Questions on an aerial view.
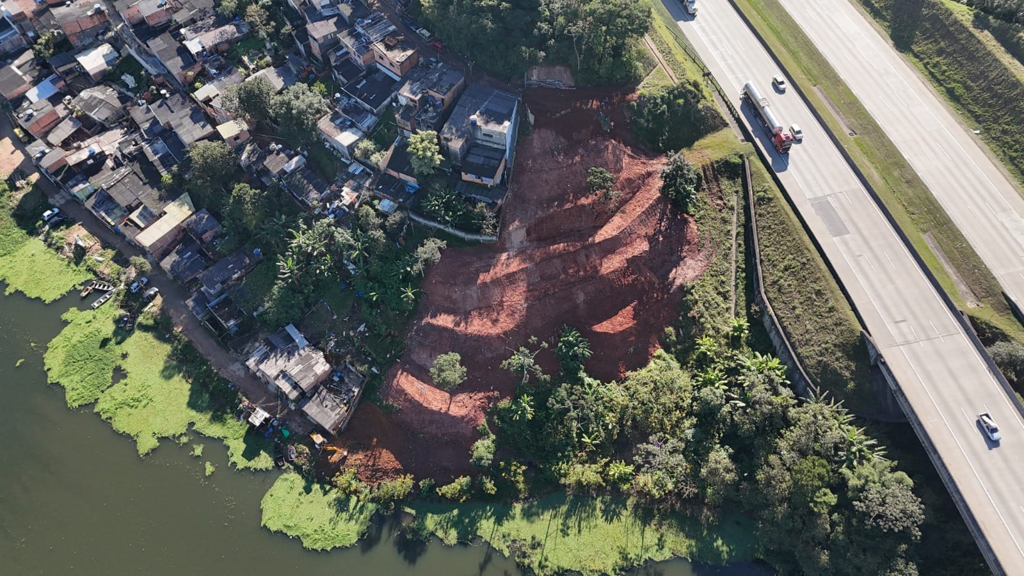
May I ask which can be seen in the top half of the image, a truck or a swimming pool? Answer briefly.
truck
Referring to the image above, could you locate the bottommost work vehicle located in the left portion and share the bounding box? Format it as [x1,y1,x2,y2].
[303,425,347,456]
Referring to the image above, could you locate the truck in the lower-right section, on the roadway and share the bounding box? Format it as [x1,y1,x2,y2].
[975,410,1002,442]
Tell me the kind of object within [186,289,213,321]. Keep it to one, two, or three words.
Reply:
house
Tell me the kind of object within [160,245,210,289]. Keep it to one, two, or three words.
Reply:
house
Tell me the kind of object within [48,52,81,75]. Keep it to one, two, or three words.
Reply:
shed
